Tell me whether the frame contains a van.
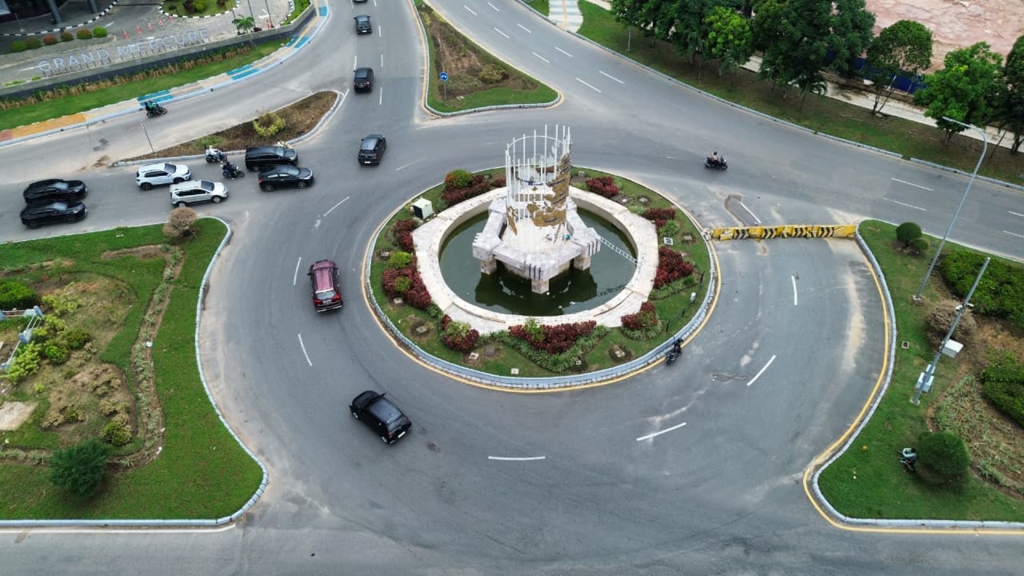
Yes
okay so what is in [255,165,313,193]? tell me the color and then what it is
black car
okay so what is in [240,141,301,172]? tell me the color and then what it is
black van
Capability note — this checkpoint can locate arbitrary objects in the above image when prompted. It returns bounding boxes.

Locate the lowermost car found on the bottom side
[349,388,415,445]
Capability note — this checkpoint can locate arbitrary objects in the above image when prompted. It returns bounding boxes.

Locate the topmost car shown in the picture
[353,12,372,29]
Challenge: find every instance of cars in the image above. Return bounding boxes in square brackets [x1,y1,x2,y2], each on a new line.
[305,257,343,306]
[353,12,372,29]
[16,198,85,229]
[358,131,389,160]
[349,388,415,445]
[255,165,313,193]
[165,177,230,209]
[20,175,86,202]
[351,63,373,87]
[130,160,190,190]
